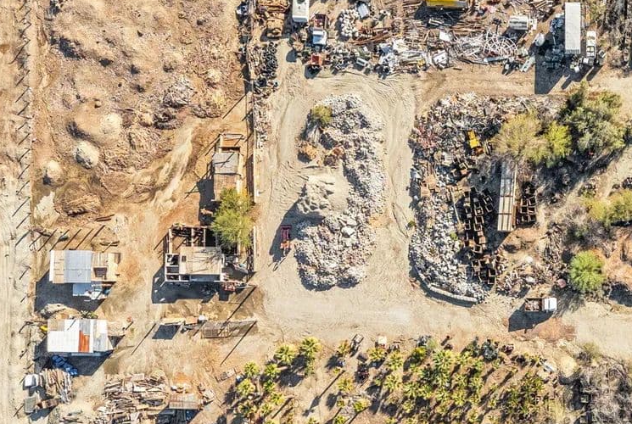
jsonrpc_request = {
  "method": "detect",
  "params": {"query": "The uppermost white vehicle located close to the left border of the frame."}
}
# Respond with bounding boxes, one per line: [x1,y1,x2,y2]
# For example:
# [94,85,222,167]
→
[24,365,45,388]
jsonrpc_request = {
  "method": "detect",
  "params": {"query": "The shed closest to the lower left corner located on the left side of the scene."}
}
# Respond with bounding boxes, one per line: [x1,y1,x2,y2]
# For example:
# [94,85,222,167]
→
[48,319,122,356]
